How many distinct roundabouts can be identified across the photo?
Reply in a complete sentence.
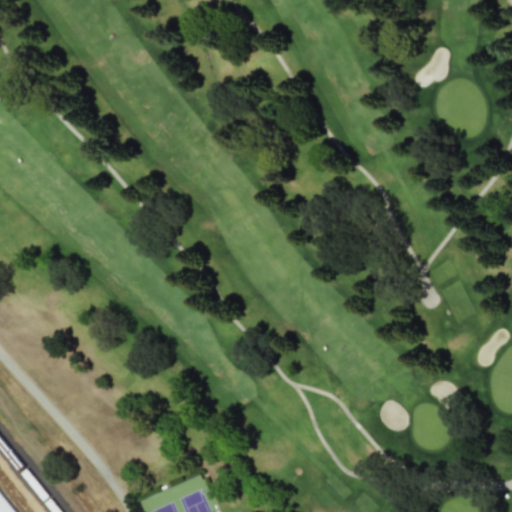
Not a single roundabout can be seen.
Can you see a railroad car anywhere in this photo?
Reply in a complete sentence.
Yes, this view includes a railroad car.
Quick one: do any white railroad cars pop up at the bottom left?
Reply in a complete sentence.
Yes, a white railroad car appears at the bottom left.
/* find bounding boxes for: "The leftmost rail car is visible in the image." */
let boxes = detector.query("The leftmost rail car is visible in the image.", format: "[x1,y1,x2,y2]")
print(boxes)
[0,431,28,470]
